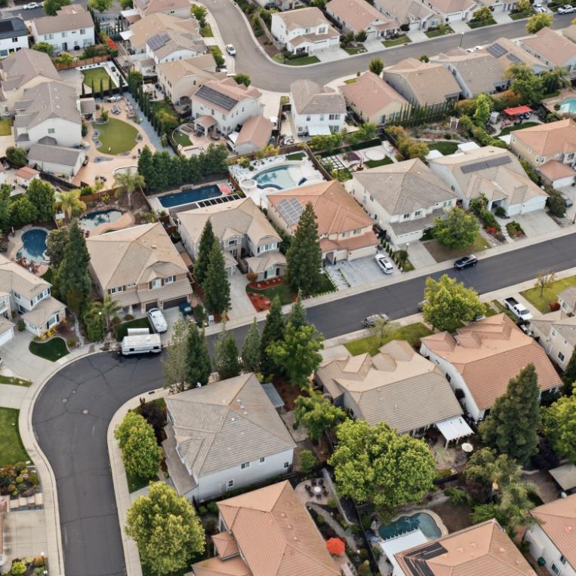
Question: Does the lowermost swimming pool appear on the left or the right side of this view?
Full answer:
It is on the right.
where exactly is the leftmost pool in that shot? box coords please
[18,228,50,263]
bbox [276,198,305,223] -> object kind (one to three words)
solar panel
